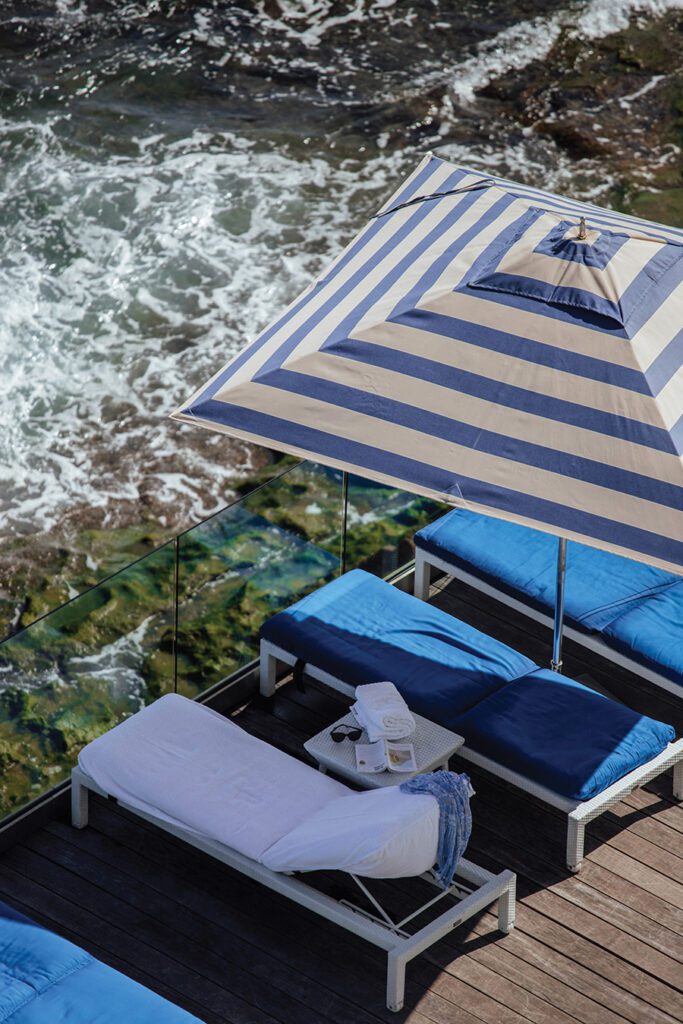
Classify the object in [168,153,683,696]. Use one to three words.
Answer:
umbrella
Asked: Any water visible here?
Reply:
Yes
